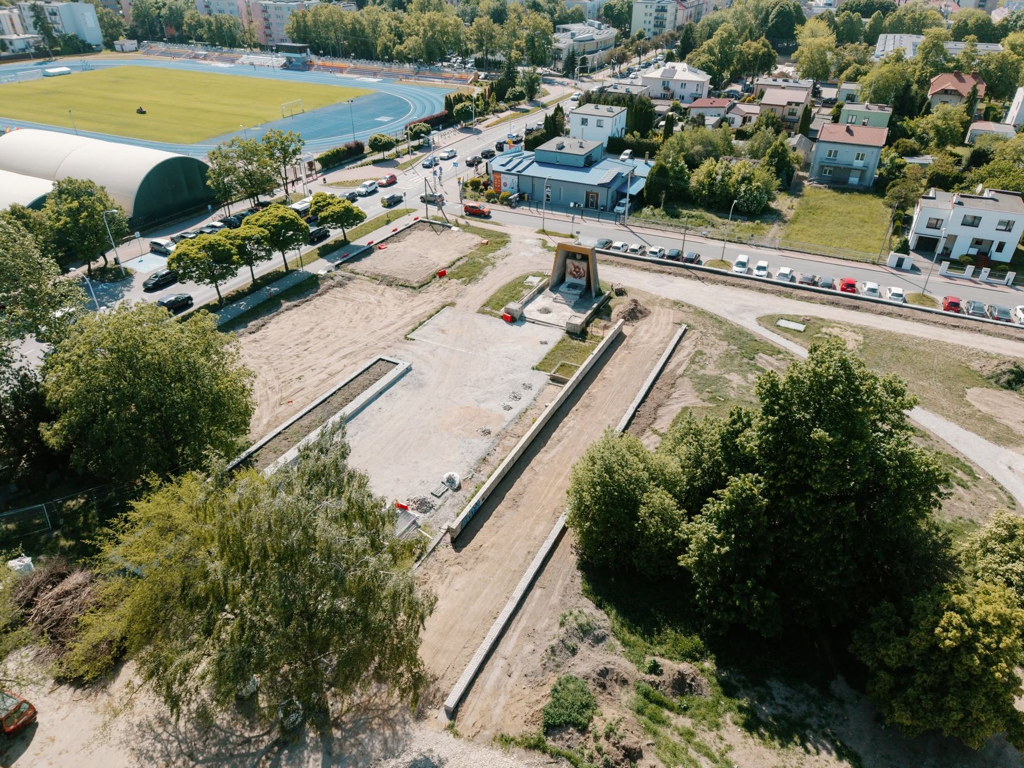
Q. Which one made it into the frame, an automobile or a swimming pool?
automobile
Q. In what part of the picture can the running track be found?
top left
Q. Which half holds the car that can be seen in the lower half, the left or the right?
left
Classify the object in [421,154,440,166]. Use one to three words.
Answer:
vehicle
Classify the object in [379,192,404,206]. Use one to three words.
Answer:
car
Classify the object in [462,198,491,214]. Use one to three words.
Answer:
car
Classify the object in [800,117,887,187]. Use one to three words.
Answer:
house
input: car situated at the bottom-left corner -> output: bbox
[0,673,35,741]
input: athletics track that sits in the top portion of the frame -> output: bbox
[0,67,405,146]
